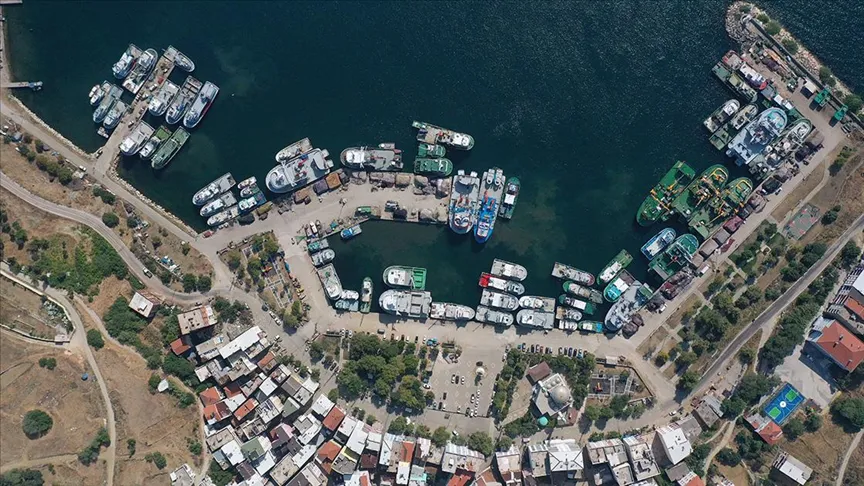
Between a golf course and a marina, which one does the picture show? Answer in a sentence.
The picture captures a marina.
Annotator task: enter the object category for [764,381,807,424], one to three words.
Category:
basketball court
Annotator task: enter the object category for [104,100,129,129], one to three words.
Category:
boat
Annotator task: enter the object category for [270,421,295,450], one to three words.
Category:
house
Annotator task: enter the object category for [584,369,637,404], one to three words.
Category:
playground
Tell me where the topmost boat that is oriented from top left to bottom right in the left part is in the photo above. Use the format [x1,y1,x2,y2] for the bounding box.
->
[165,50,194,73]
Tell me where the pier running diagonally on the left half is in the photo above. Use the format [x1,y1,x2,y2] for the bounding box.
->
[105,58,174,158]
